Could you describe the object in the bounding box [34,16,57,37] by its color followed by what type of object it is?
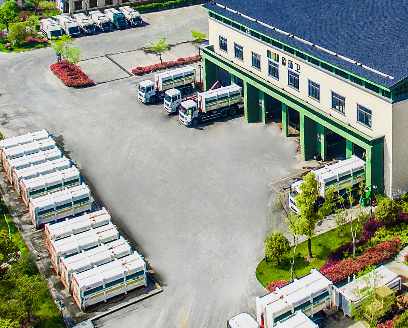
white truck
